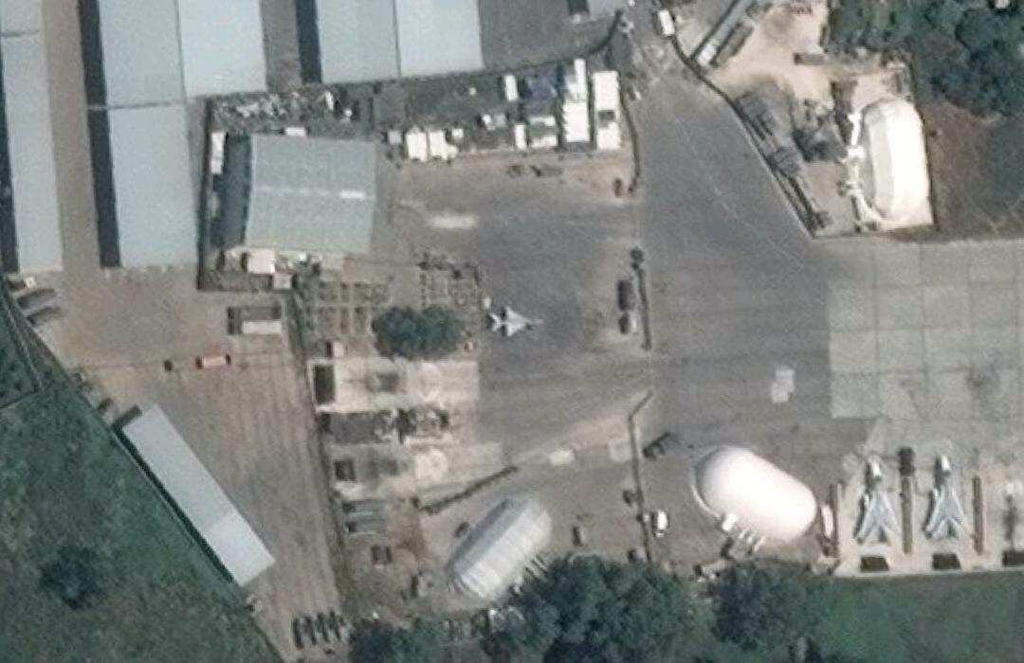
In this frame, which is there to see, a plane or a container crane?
plane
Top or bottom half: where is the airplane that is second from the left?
bottom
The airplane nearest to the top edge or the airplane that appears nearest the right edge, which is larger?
the airplane that appears nearest the right edge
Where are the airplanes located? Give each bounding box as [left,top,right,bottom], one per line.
[862,457,903,544]
[928,454,970,542]
[489,309,546,336]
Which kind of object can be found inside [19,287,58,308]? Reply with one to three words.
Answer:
truck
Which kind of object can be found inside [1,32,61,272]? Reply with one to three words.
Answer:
hangar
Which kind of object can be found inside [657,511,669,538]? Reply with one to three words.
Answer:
vehicle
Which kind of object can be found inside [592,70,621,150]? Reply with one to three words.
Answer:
shed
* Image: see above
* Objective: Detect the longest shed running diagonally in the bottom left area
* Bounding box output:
[122,404,274,584]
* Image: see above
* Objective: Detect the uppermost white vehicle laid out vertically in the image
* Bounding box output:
[659,8,674,36]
